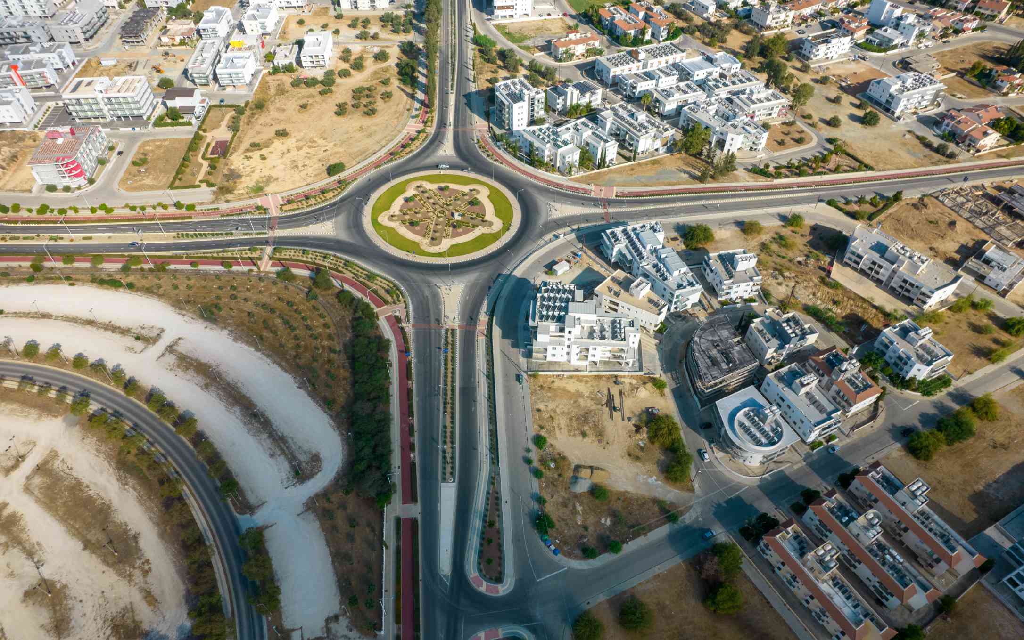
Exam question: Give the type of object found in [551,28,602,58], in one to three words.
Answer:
house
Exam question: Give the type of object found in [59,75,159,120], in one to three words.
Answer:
building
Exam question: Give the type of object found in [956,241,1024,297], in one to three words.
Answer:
house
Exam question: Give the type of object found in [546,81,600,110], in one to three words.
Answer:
building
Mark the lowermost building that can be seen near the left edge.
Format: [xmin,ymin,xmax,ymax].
[28,123,112,192]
